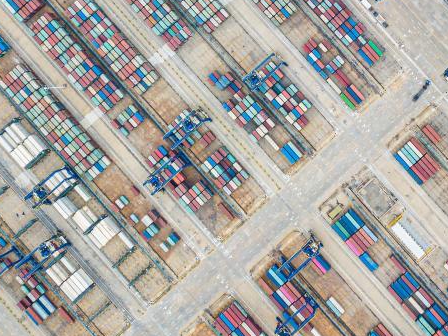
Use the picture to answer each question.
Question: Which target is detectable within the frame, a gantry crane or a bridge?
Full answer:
Of the two, only a gantry crane appears.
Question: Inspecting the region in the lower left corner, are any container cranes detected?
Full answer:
Yes, there is a container crane in the lower left corner.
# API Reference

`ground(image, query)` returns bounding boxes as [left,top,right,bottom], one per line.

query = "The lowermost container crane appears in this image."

[269,288,318,336]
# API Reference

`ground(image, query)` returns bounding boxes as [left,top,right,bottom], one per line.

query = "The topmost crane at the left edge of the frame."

[19,163,82,217]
